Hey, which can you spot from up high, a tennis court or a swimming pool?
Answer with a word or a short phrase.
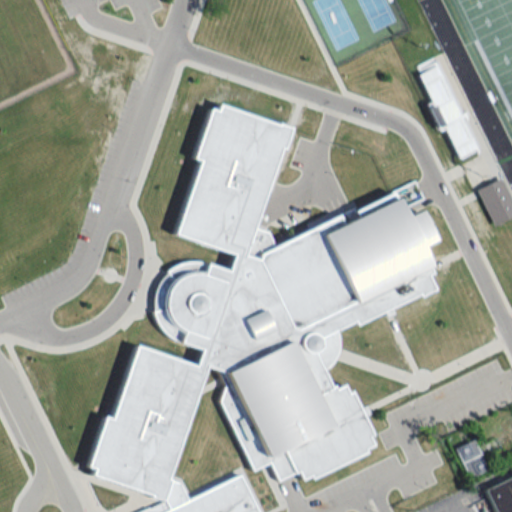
tennis court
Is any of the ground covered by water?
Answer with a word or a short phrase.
No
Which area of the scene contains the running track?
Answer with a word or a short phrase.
top right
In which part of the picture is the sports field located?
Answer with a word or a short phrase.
top right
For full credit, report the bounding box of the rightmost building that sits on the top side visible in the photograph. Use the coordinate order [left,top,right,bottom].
[476,180,512,226]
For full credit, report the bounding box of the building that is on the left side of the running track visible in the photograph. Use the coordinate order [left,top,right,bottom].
[85,103,442,512]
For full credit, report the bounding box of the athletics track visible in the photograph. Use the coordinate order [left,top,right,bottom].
[418,0,512,186]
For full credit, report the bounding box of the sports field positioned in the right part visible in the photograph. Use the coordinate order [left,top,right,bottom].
[444,0,512,139]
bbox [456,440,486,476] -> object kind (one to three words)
building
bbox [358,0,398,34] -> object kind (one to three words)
tennis court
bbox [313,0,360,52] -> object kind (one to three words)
tennis court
